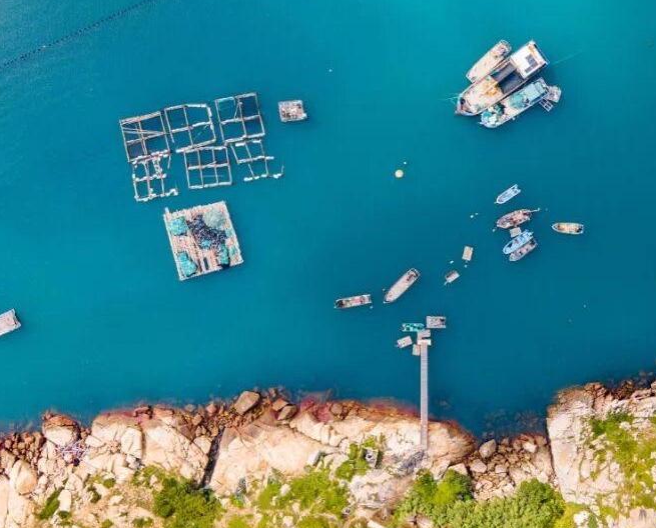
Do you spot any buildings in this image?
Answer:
No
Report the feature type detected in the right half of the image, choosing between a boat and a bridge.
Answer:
boat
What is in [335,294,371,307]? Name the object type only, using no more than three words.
boat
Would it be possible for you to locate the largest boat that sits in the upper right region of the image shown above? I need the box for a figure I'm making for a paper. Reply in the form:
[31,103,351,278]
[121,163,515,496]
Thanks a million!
[455,38,551,115]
